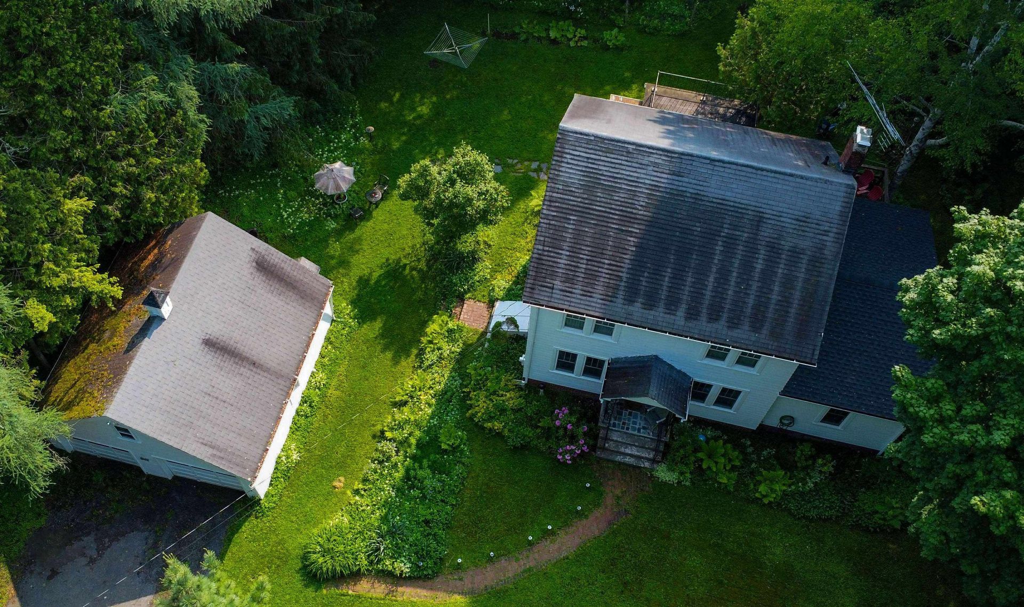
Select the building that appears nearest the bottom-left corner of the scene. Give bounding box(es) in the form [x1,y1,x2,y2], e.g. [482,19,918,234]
[24,212,341,501]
